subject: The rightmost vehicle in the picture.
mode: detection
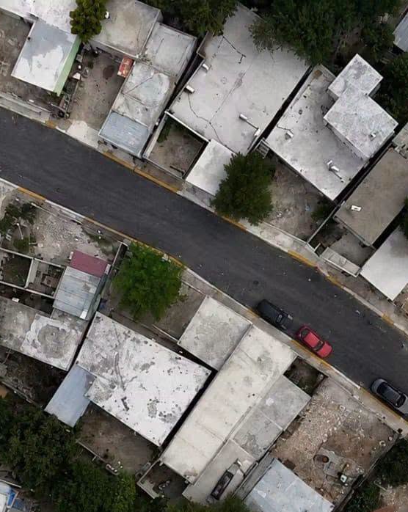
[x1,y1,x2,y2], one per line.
[369,376,408,417]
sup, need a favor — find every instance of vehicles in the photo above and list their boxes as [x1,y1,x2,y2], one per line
[369,376,408,417]
[252,296,295,331]
[209,464,238,501]
[292,323,334,359]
